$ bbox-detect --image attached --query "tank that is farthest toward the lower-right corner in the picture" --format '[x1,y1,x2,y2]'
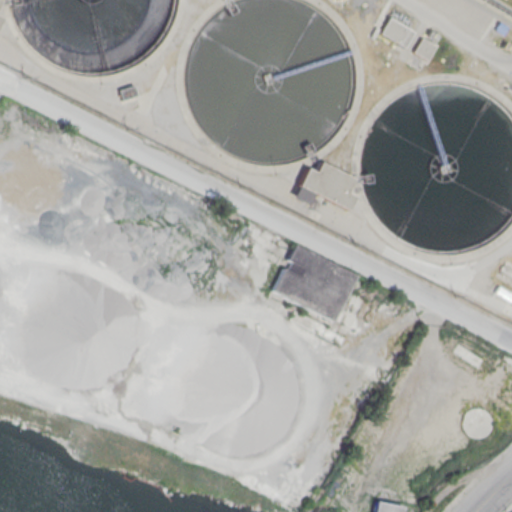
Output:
[460,408,492,440]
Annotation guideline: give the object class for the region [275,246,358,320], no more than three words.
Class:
building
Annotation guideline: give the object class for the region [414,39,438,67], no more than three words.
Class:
building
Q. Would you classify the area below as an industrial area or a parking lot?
industrial area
